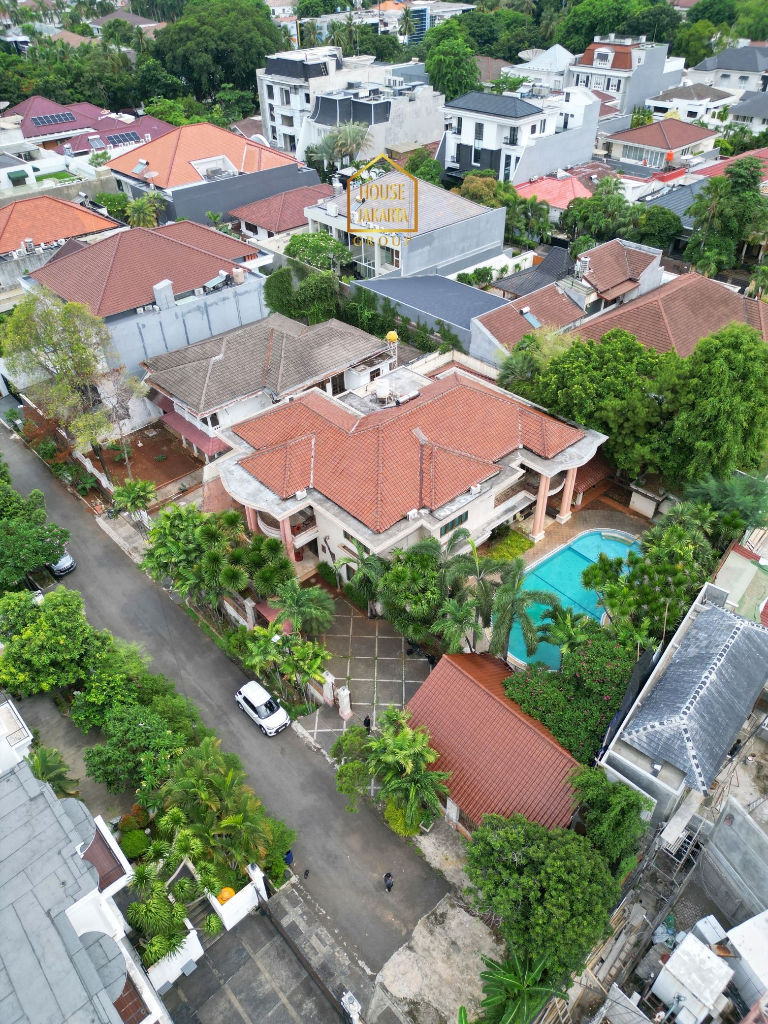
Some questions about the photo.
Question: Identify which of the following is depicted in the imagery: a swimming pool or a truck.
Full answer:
Visible in the photo is a swimming pool.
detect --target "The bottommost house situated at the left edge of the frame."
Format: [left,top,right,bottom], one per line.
[0,762,172,1024]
